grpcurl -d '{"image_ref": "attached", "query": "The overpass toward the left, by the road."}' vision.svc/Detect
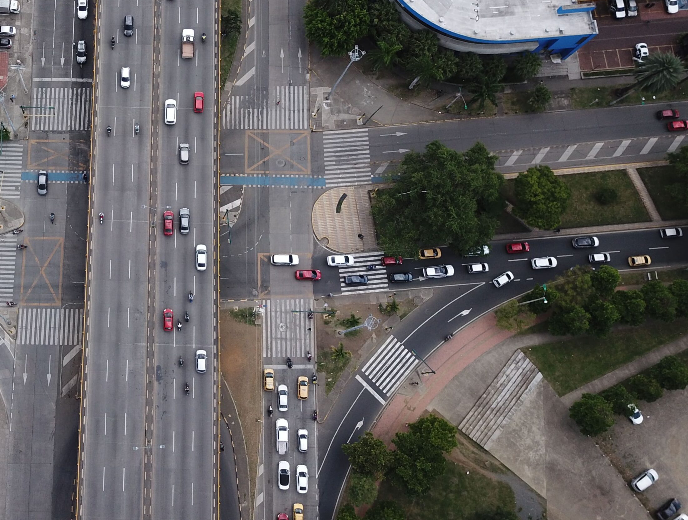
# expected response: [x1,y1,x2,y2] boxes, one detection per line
[78,0,219,520]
